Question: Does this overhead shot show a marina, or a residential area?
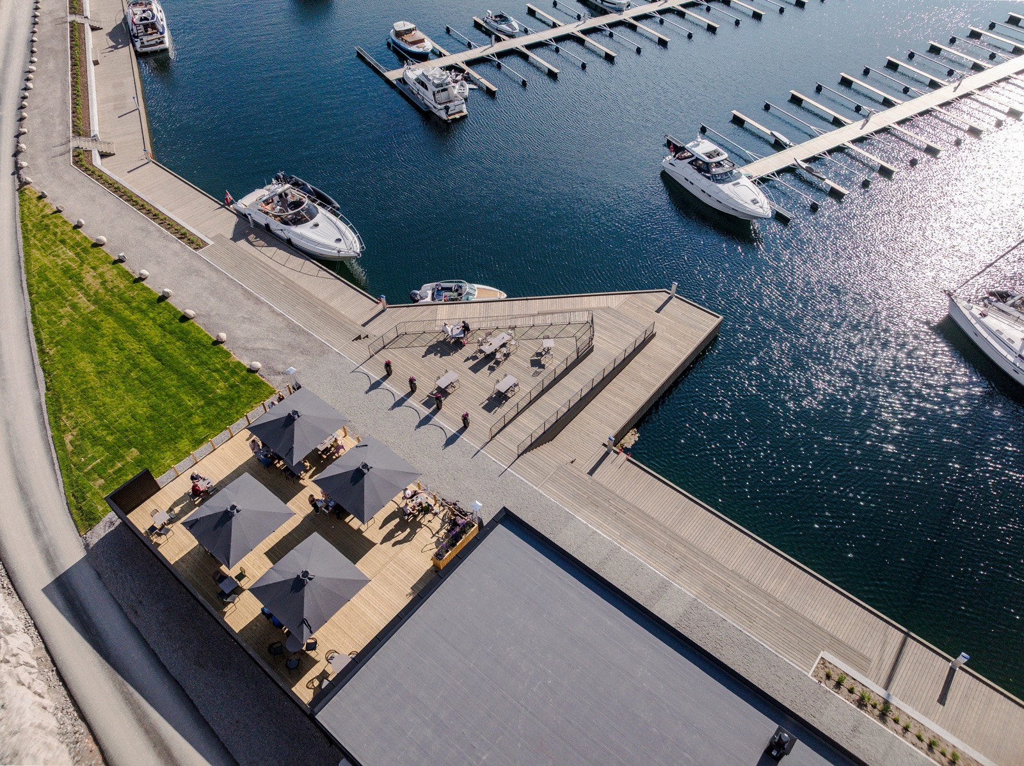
marina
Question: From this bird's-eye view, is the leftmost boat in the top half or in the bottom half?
top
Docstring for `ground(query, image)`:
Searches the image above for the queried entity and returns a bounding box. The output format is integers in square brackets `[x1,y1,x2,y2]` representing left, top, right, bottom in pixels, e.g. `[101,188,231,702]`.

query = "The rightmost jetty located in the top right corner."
[740,54,1024,180]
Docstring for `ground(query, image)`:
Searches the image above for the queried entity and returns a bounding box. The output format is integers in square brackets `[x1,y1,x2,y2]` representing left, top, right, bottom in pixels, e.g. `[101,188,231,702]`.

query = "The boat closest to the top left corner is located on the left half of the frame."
[122,0,171,57]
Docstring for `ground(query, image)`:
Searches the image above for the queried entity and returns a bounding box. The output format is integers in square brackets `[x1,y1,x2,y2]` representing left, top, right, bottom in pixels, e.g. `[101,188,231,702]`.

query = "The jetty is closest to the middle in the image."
[388,290,724,468]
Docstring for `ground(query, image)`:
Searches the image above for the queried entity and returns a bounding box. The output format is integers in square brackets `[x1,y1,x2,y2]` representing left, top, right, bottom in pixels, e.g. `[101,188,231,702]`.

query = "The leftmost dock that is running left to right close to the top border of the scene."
[385,0,702,81]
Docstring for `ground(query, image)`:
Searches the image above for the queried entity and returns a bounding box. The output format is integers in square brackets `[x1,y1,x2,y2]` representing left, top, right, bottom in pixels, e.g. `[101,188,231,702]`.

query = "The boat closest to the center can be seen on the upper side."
[413,276,507,305]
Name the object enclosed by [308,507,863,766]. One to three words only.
building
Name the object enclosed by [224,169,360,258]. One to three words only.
boat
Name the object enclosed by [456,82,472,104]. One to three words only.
boat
